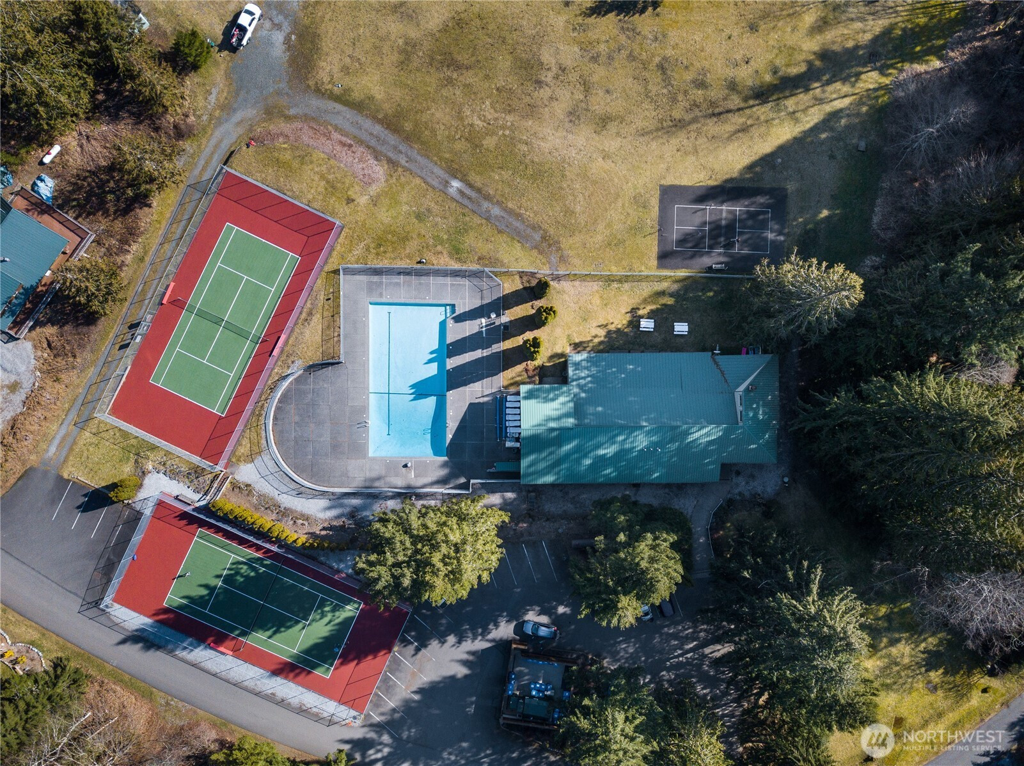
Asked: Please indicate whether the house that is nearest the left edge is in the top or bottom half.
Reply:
top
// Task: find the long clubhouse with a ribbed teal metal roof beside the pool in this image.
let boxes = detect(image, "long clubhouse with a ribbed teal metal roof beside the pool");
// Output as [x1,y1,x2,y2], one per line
[495,352,782,484]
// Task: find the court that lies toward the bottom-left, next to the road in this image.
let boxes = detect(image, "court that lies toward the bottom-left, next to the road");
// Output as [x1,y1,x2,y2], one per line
[113,492,409,714]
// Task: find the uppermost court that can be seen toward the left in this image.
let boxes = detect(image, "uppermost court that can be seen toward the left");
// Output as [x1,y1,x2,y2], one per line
[108,171,342,470]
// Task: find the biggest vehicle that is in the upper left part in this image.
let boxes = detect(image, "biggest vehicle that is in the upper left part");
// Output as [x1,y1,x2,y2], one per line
[231,5,259,53]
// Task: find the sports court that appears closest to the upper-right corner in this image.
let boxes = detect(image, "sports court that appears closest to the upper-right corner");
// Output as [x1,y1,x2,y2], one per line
[657,185,787,271]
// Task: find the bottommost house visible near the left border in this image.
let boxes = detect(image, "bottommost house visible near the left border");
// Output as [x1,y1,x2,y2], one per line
[0,181,99,341]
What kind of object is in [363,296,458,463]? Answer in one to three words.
swimming pool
